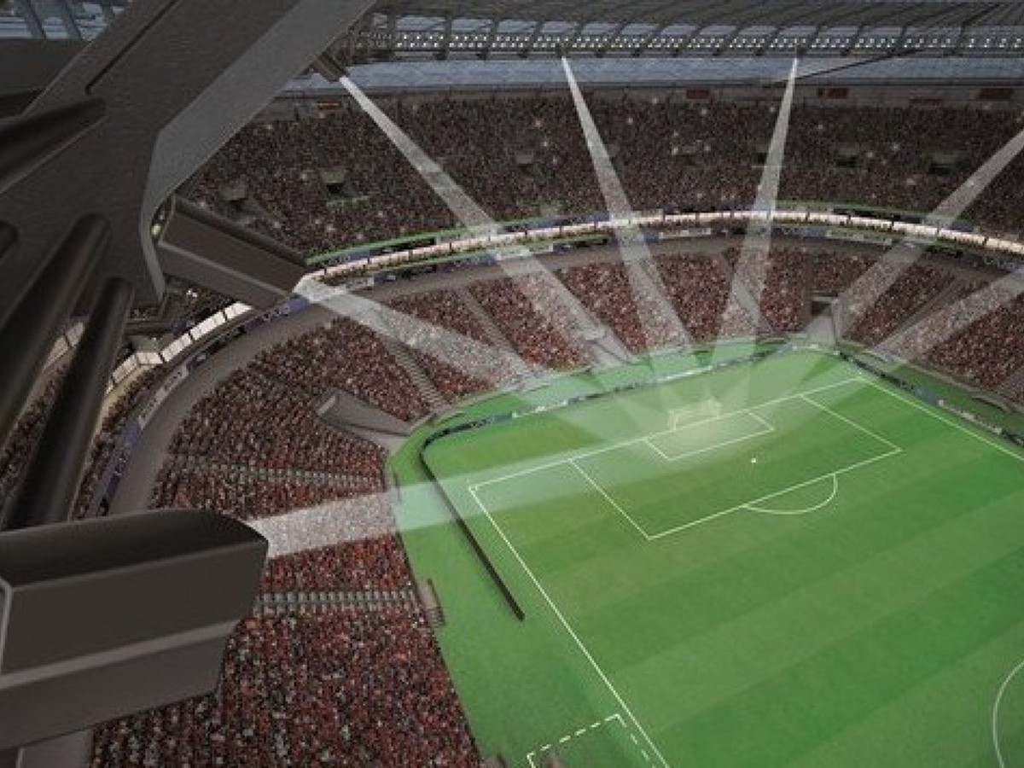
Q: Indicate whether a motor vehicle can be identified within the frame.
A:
No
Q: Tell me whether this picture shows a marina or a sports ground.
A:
sports ground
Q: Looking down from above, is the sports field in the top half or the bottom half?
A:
bottom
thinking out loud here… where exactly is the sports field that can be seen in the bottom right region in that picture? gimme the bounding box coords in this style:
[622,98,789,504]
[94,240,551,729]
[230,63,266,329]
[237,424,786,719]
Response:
[470,376,1024,768]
